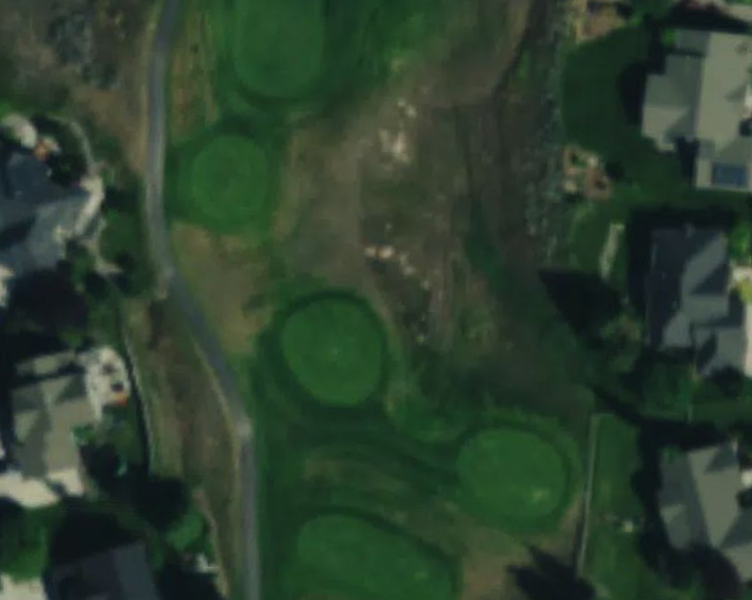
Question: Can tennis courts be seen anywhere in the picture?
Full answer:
No, I can see no tennis court in this picture.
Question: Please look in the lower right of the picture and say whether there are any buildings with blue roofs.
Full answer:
No, there is no building with a blue roof in the lower right of the picture.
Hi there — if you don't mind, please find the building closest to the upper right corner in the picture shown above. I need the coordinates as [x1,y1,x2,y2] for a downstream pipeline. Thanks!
[640,24,752,191]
